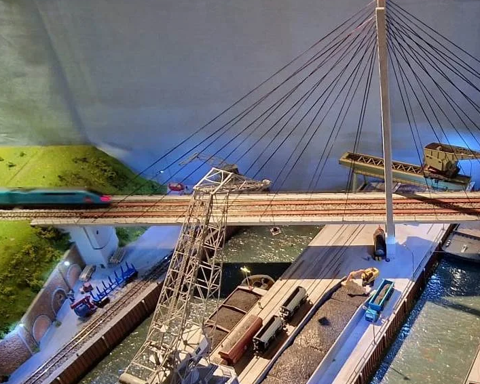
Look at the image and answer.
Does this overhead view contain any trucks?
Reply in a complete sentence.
Yes, the picture does show a truck.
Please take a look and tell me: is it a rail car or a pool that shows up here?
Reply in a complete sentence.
There is a rail car in the scene.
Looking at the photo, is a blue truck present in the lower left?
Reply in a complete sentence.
Yes, in the lower left there is a blue truck.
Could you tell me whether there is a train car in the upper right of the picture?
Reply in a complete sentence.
No, no train car appears in the upper right of the picture.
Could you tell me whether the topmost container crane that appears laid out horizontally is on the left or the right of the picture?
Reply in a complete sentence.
It is on the right.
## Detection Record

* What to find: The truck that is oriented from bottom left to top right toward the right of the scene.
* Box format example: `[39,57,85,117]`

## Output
[365,285,392,320]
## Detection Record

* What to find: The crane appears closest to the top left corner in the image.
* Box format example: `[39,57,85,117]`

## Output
[184,143,237,193]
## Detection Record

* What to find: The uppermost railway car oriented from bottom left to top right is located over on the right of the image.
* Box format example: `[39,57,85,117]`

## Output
[281,286,308,320]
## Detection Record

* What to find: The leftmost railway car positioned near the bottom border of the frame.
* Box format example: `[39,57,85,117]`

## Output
[226,315,265,370]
